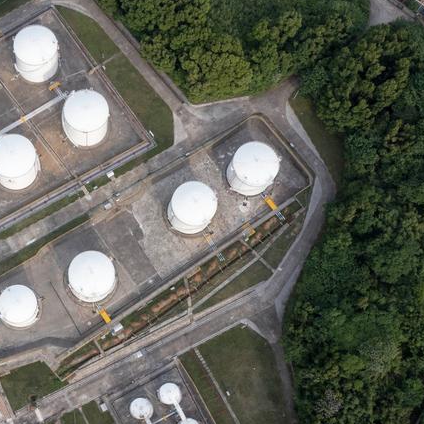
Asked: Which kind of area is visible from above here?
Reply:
industrial area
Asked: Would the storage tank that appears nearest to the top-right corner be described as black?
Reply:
No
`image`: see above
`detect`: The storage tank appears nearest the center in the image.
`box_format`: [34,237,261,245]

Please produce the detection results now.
[163,180,219,238]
